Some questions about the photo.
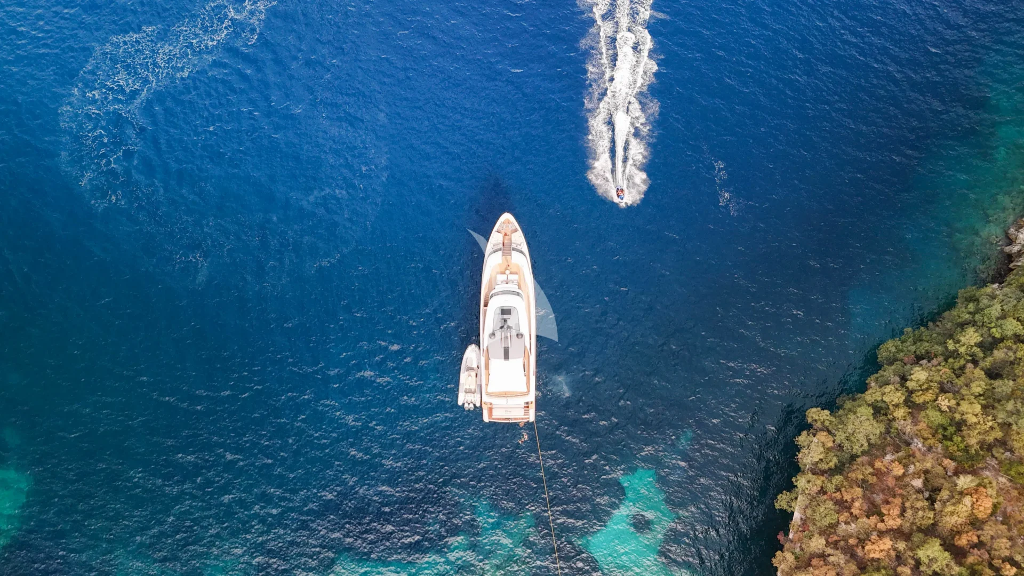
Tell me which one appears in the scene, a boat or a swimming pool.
boat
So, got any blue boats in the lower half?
No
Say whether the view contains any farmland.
No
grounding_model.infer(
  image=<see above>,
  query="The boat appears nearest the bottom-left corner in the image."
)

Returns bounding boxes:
[458,344,481,410]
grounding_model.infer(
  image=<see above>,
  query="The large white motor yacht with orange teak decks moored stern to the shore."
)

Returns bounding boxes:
[479,213,537,423]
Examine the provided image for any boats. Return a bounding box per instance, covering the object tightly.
[458,344,481,410]
[616,183,625,205]
[479,213,537,423]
